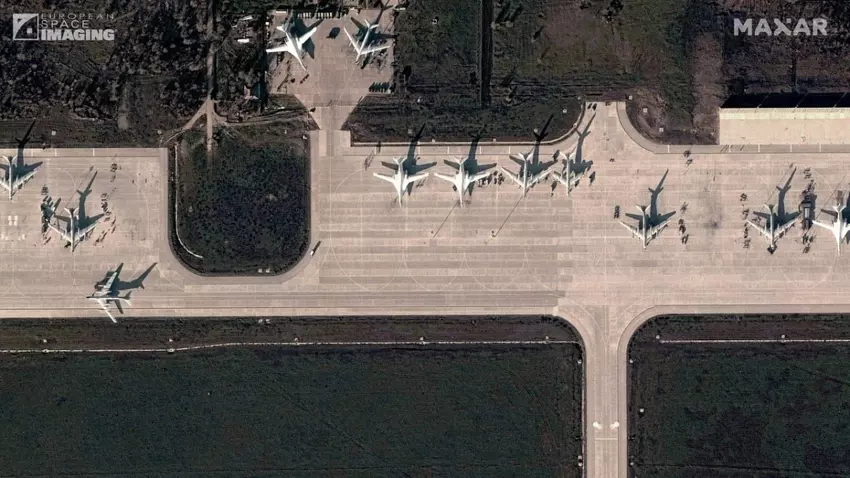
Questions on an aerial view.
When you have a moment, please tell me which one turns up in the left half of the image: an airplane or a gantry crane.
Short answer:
airplane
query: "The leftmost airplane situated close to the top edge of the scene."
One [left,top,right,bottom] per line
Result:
[266,22,316,70]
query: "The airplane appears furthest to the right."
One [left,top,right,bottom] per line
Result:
[813,202,850,255]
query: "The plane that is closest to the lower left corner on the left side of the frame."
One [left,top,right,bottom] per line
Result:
[87,273,134,323]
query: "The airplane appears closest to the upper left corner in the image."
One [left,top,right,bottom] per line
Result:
[0,153,36,202]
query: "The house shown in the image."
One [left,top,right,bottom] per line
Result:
[244,79,260,99]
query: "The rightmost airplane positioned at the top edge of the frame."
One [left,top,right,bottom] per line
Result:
[344,20,390,66]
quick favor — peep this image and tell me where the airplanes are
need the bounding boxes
[48,205,98,252]
[87,273,134,323]
[620,202,670,250]
[344,20,390,66]
[748,202,799,250]
[813,202,850,255]
[501,151,551,198]
[434,154,490,207]
[266,22,316,70]
[374,156,428,207]
[554,149,583,195]
[0,153,36,202]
